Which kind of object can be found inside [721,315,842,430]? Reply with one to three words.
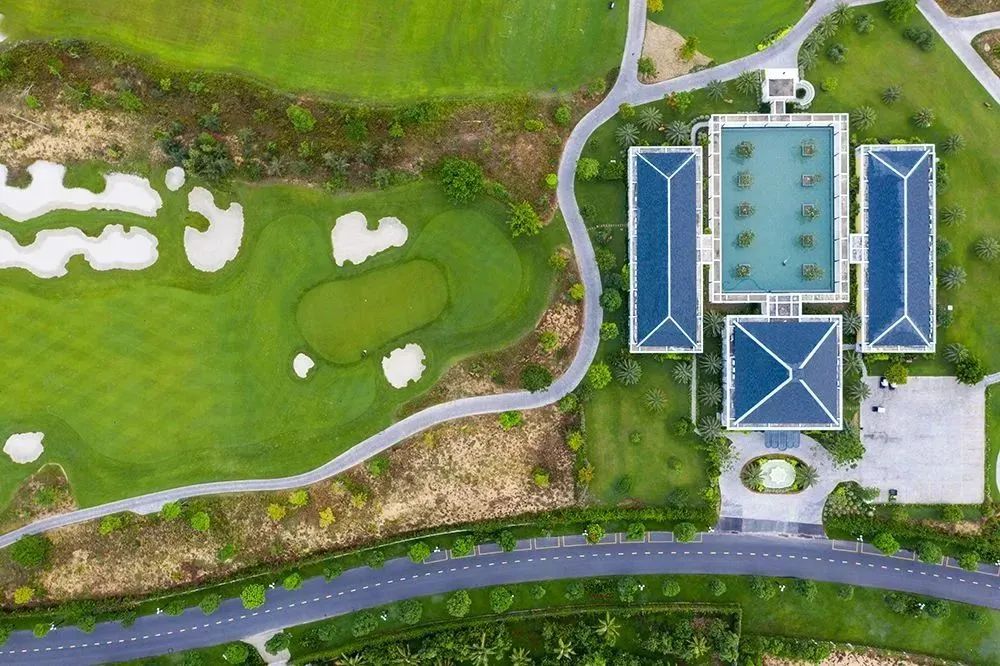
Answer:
building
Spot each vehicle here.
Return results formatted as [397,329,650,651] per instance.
[871,406,888,413]
[889,489,898,502]
[878,377,890,391]
[886,380,900,393]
